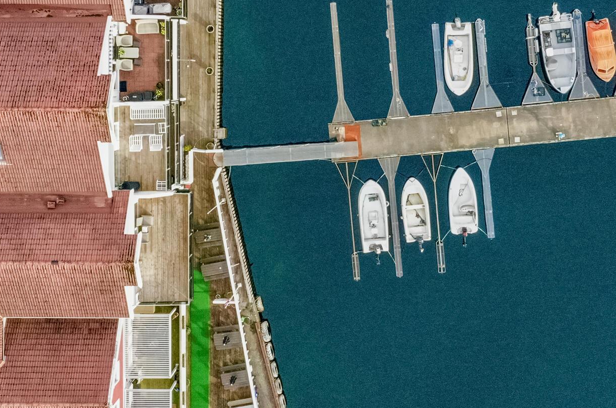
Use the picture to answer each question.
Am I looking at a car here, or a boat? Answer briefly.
boat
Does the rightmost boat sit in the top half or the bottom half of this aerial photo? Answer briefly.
top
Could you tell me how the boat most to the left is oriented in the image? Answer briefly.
vertically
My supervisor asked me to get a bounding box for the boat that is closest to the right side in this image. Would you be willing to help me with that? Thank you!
[584,8,616,82]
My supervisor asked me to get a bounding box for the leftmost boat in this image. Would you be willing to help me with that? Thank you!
[358,180,392,270]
